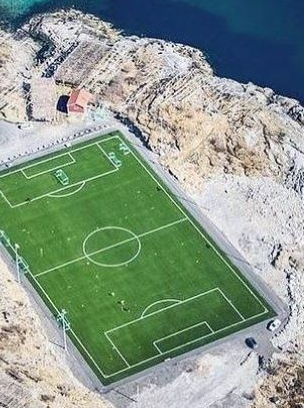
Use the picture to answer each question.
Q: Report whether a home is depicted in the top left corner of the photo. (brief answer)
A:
Yes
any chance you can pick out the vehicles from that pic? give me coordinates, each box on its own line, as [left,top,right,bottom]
[268,320,281,331]
[244,339,260,348]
